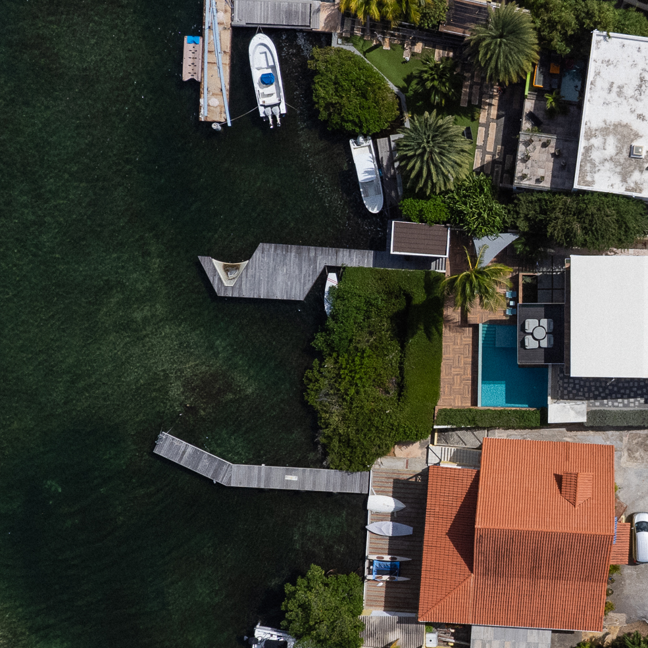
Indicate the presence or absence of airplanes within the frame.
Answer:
No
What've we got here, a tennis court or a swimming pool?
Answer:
swimming pool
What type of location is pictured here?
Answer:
residential area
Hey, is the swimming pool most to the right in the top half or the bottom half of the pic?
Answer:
top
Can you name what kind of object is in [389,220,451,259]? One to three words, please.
shed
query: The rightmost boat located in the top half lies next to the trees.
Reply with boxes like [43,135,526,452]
[348,127,381,212]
